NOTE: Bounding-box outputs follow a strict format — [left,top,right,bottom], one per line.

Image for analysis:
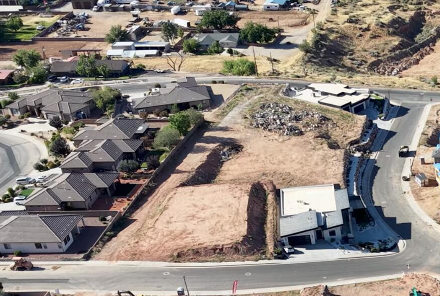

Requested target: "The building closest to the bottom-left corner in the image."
[0,211,92,252]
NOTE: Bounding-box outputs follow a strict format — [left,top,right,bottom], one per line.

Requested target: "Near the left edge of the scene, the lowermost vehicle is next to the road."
[11,256,36,268]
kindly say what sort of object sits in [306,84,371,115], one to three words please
house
